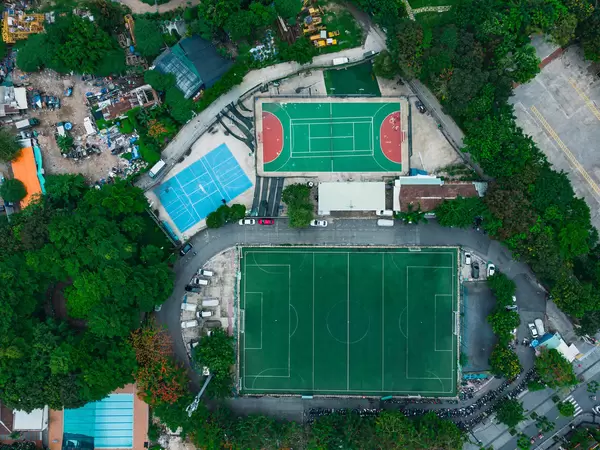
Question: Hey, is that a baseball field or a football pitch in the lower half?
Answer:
football pitch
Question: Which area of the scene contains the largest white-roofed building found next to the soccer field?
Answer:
center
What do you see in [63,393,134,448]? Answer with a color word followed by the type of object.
blue swimming pool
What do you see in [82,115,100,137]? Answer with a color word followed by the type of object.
white vehicle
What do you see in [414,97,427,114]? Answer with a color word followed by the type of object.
black vehicle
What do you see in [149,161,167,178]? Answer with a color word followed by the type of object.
white vehicle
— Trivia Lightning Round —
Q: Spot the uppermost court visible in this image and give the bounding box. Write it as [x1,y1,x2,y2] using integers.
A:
[324,58,381,96]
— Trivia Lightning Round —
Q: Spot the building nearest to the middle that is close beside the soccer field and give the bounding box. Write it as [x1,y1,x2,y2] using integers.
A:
[318,182,385,214]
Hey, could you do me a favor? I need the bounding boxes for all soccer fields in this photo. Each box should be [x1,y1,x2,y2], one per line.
[238,247,459,397]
